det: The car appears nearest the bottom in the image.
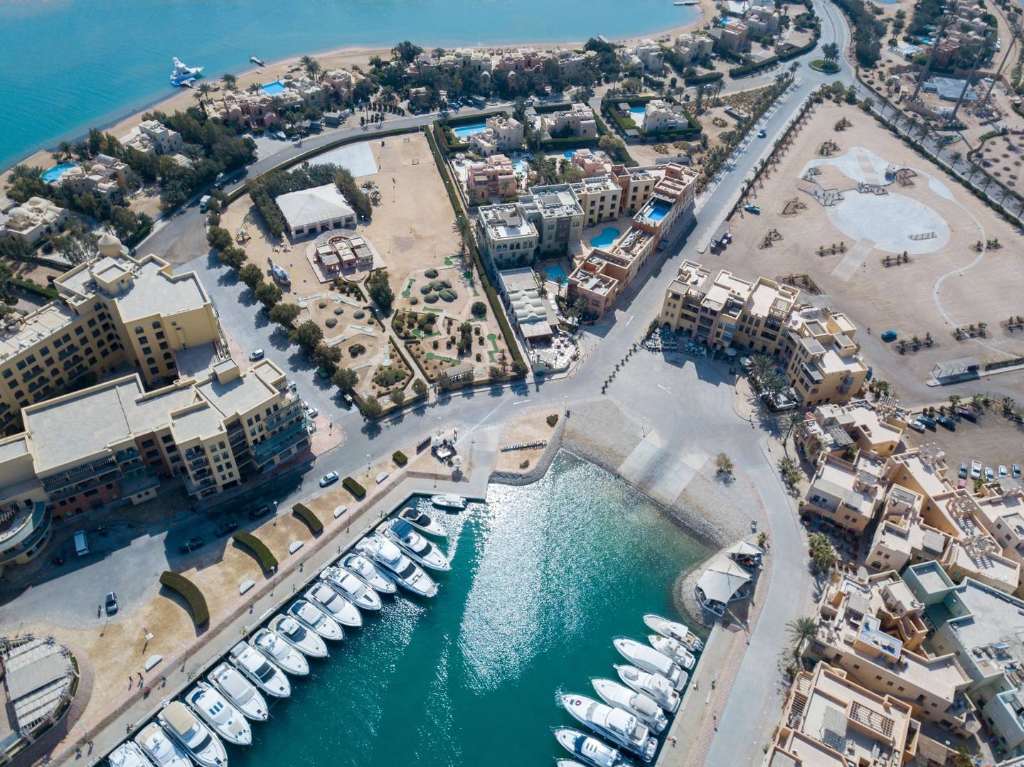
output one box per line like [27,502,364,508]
[103,589,118,615]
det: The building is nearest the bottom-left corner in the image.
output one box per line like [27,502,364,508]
[2,638,80,745]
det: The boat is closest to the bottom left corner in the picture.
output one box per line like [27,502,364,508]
[103,739,158,767]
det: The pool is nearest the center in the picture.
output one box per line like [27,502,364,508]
[545,263,569,287]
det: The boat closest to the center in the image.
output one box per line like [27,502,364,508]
[431,491,472,511]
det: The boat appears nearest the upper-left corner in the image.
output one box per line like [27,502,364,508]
[167,65,204,87]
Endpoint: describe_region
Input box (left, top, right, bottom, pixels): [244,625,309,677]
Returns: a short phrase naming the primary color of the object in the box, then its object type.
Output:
white boat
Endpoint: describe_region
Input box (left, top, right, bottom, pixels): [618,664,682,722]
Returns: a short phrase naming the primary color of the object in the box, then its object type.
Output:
white boat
